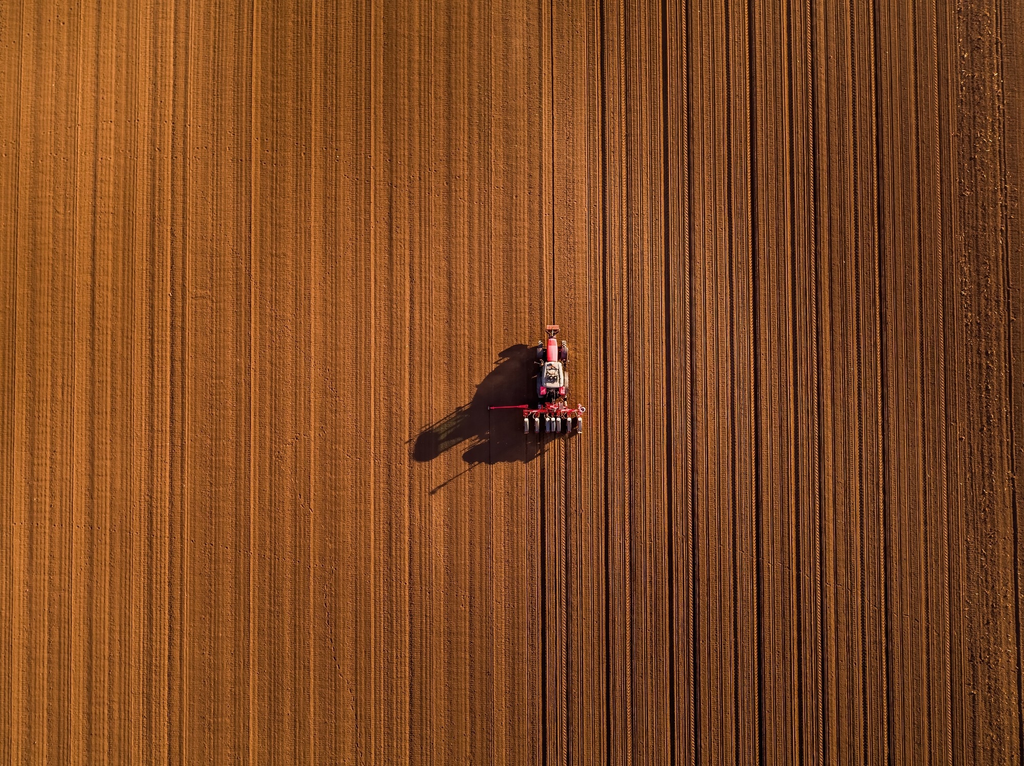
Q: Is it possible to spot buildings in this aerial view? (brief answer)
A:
No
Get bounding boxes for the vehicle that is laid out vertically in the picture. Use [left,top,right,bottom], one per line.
[536,325,568,404]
